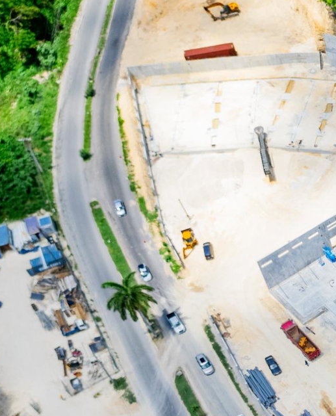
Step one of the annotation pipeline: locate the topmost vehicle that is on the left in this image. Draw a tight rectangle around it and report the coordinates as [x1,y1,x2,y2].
[112,197,125,215]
